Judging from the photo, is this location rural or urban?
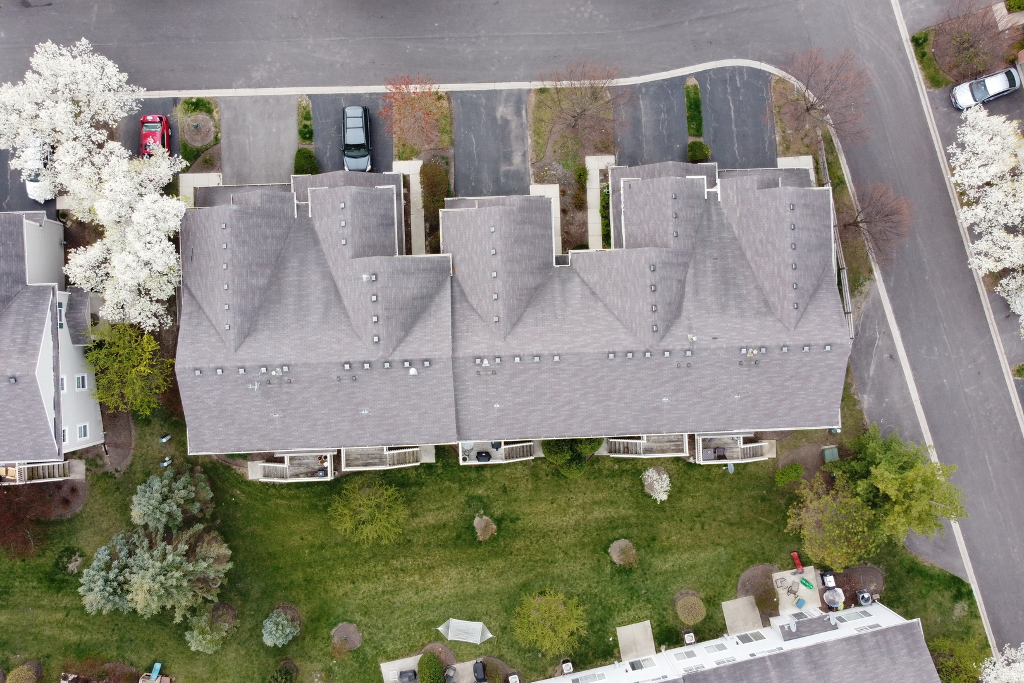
urban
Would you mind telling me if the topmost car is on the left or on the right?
right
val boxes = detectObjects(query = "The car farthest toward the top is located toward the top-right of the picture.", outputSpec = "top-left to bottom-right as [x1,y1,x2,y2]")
[951,63,1024,109]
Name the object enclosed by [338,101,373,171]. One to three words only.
car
